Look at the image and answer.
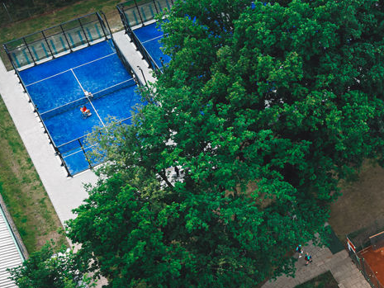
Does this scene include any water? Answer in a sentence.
No, there is no water in the image.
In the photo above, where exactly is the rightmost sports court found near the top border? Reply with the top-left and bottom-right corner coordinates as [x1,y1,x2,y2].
[123,0,214,101]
